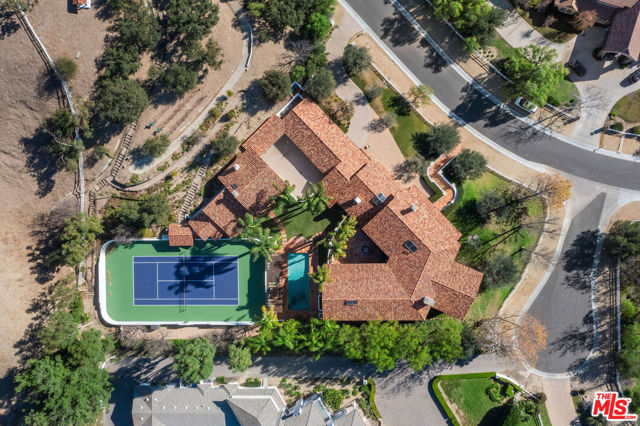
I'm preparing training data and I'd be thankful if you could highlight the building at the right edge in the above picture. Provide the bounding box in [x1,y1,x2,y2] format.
[547,0,640,61]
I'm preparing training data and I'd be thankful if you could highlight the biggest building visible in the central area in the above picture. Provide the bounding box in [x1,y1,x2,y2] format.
[188,98,483,322]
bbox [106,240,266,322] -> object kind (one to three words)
tennis court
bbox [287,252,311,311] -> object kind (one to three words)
swimming pool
